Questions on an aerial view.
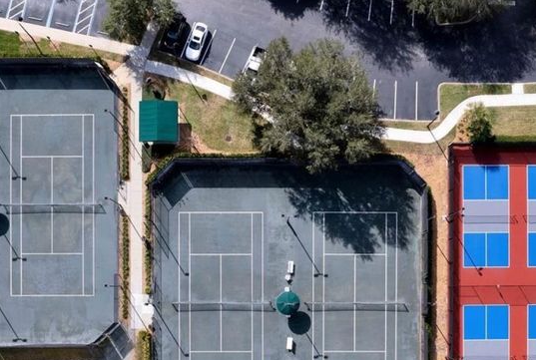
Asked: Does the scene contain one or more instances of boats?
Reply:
No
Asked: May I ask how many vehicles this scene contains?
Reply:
3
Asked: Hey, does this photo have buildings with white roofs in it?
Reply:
No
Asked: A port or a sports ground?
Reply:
sports ground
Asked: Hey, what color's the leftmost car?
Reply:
black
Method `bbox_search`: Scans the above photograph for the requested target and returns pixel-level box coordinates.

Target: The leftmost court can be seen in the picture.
[0,66,119,346]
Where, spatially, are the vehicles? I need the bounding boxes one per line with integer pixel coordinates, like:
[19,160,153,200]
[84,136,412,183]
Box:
[185,20,210,61]
[159,14,185,54]
[243,42,269,70]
